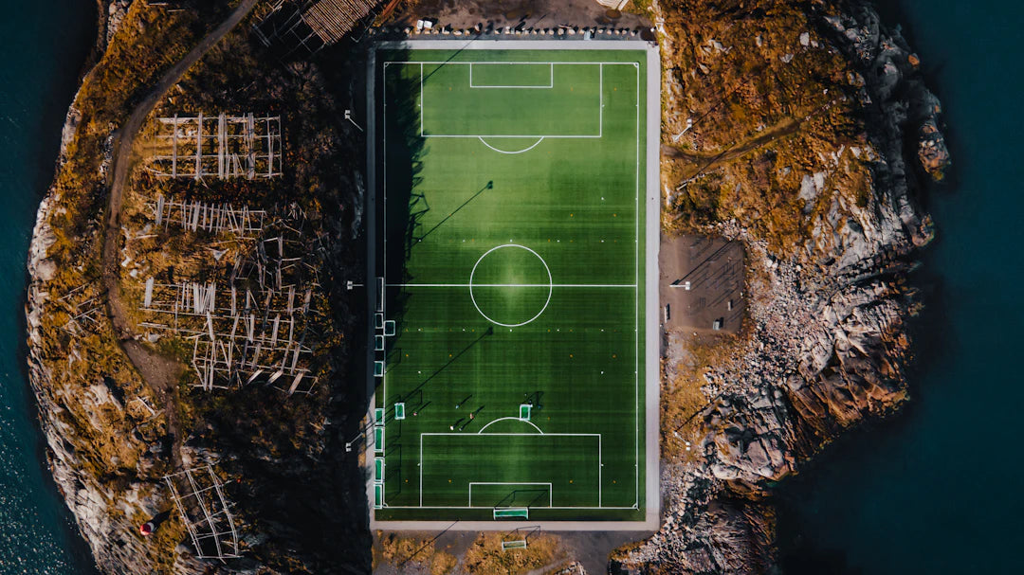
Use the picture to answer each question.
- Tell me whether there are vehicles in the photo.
No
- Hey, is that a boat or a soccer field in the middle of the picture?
soccer field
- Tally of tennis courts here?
zero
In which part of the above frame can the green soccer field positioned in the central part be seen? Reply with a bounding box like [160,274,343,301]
[376,49,647,521]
